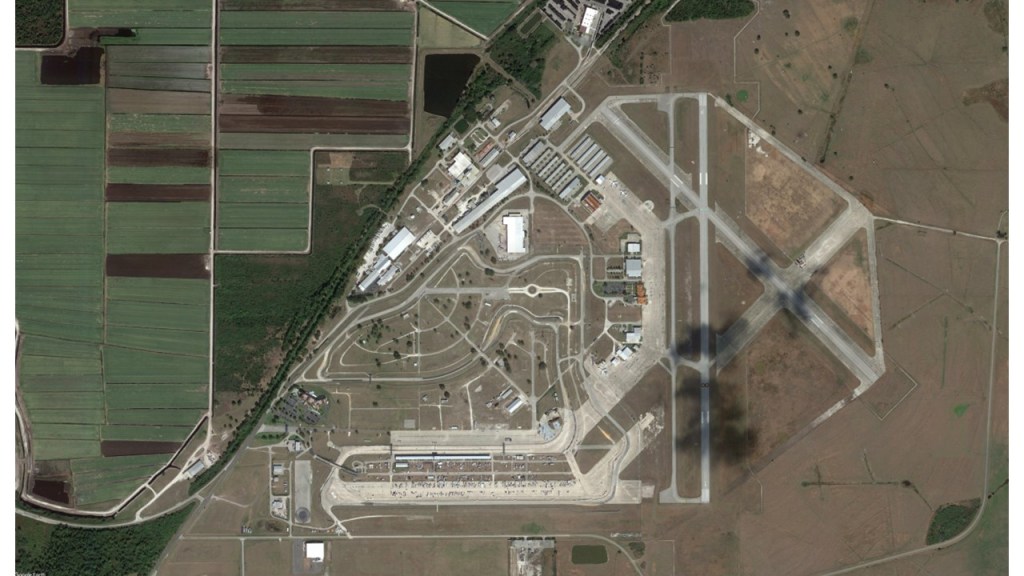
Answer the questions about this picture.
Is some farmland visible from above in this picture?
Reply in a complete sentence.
Yes, there's farmland in this view.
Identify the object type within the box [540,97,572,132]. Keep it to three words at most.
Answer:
hangar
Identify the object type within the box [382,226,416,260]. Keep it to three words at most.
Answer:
building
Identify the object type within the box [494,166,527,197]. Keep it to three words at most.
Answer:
shed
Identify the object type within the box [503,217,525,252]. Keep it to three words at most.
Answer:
building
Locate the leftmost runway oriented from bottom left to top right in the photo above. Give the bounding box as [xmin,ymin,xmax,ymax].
[716,267,805,375]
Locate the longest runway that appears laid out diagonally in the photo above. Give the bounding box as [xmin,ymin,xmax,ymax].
[599,102,879,381]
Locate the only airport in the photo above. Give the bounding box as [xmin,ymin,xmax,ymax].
[519,91,885,503]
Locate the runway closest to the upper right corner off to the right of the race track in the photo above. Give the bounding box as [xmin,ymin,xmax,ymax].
[790,209,872,284]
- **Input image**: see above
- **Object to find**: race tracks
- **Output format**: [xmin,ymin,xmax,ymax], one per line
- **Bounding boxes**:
[299,244,654,504]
